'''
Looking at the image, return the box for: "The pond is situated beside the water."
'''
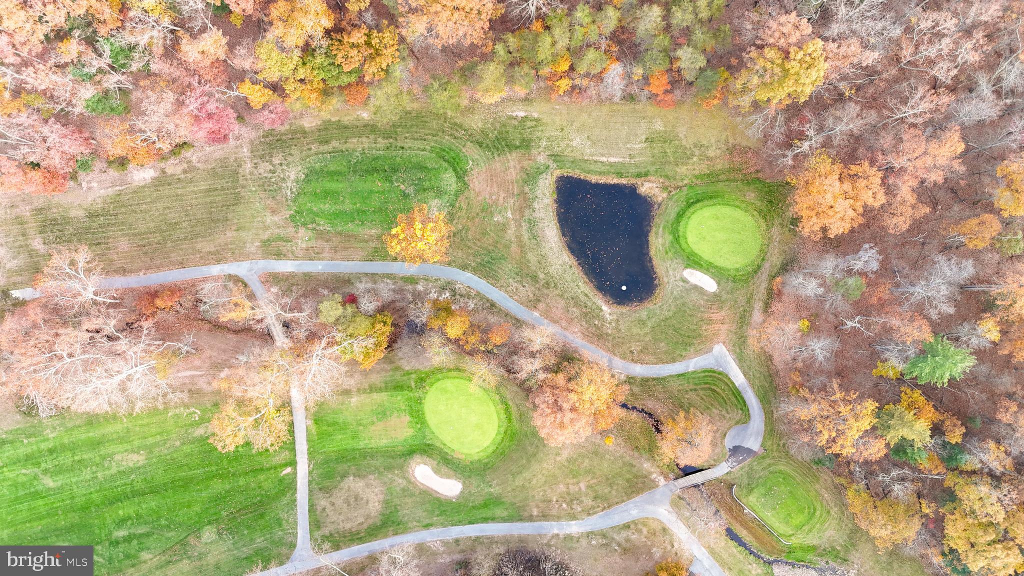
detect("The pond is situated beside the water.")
[553,173,657,305]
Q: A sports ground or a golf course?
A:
golf course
